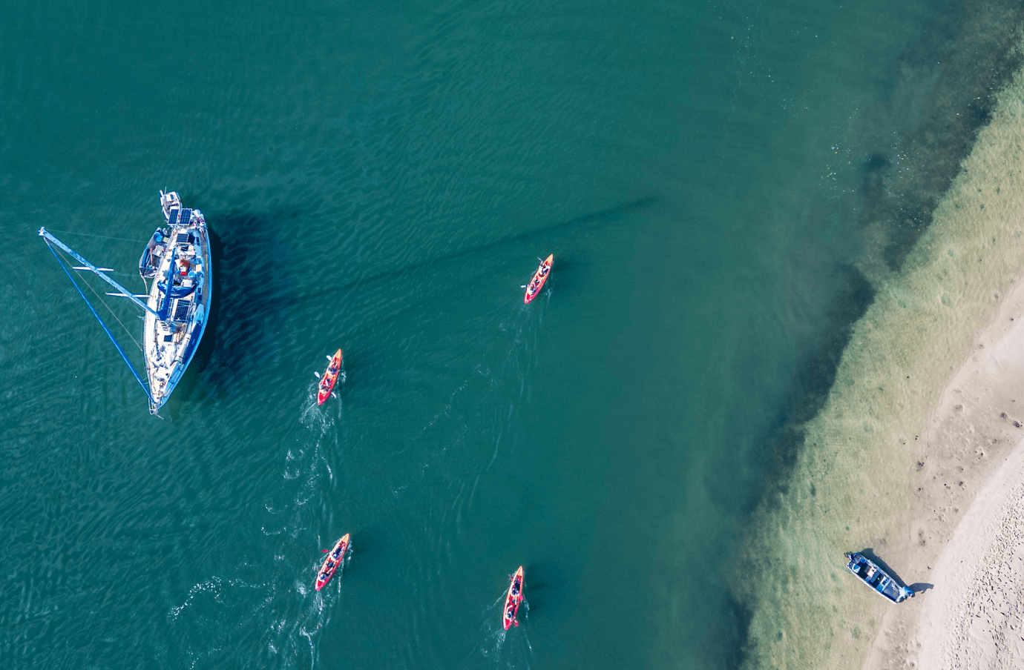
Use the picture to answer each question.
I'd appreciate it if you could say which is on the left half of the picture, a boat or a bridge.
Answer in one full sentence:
Looking on the left half of the picture, you will find a boat.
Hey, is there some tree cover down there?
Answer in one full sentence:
No, no tree cover is visible.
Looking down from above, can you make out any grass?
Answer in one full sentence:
No, there's no grass in this view.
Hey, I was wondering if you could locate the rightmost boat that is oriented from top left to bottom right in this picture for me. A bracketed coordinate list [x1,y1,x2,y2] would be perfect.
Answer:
[841,550,906,603]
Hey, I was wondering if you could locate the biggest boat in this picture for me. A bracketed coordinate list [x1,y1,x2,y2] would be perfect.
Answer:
[36,203,213,424]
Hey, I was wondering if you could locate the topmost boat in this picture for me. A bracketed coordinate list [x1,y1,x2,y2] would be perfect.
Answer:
[159,185,183,221]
